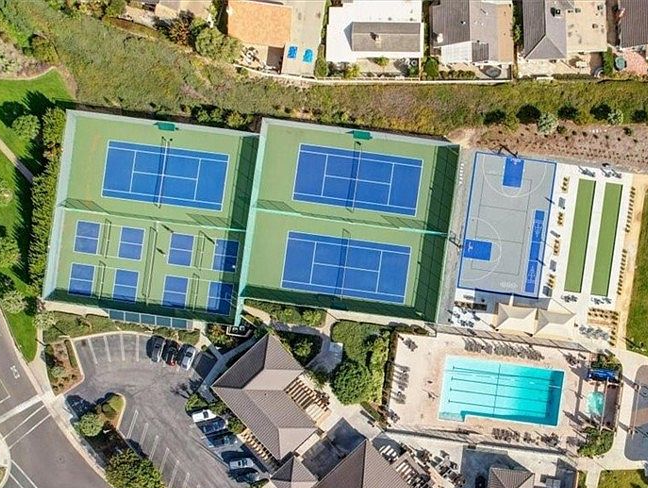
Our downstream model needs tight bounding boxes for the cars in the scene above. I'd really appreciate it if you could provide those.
[150,339,167,365]
[199,420,227,433]
[191,409,218,422]
[210,434,237,446]
[180,345,198,370]
[230,457,256,469]
[165,341,180,367]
